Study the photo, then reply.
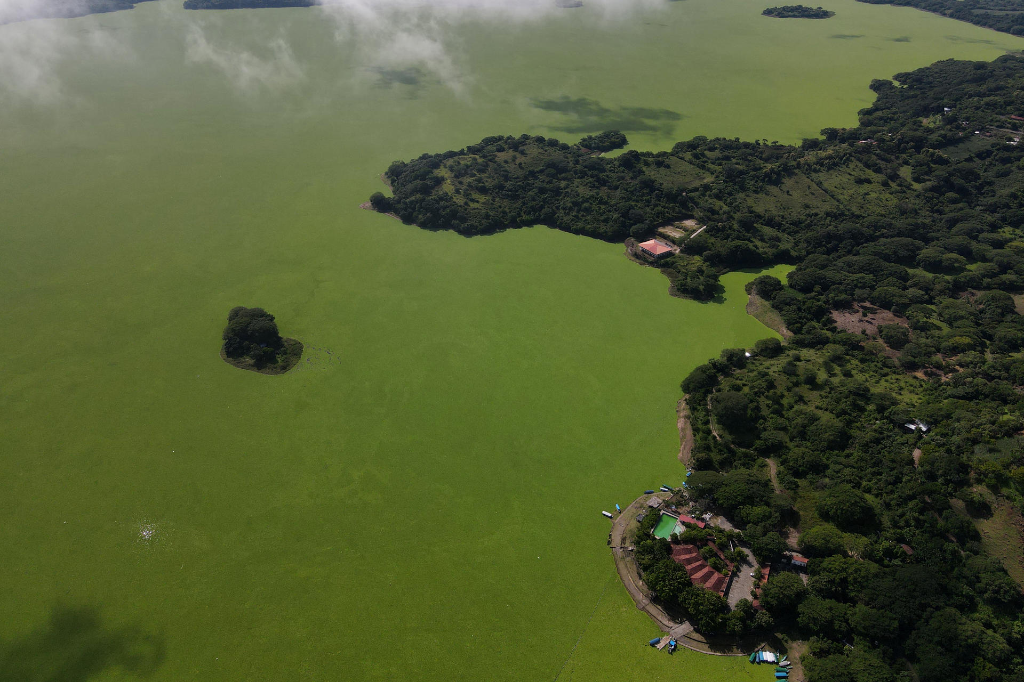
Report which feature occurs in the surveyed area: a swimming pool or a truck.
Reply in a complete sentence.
The one in the frame is a swimming pool.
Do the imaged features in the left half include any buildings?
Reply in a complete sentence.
No, I can find no building in the left half.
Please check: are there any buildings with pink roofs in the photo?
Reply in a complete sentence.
Yes, this view includes a building with a pink roof.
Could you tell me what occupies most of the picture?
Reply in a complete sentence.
For the most part, this view shows water.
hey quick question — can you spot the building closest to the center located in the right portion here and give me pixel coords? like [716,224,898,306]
[639,239,671,259]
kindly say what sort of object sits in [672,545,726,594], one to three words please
building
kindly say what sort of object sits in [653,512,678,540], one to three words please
swimming pool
